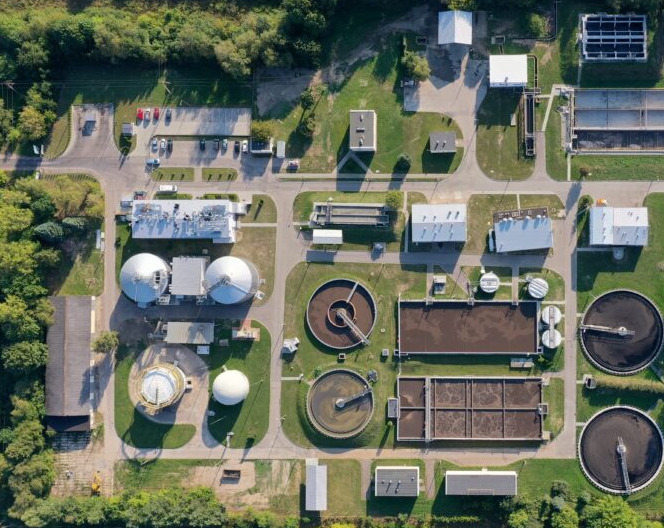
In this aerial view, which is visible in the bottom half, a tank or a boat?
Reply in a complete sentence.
The feature located in the bottom half is a tank.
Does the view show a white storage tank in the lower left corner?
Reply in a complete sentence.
Yes, a white storage tank appears in the lower left corner.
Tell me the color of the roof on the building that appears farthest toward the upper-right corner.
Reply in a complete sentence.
The color of the roof on the building that appears farthest toward the upper-right corner is white.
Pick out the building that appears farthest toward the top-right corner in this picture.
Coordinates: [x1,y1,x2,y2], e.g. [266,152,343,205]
[489,54,527,89]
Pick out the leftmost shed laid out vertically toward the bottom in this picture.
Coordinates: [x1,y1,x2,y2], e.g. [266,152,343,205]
[47,296,99,416]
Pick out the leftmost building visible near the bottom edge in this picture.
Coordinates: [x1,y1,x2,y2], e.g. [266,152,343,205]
[306,455,328,510]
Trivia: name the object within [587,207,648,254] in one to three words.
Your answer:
building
